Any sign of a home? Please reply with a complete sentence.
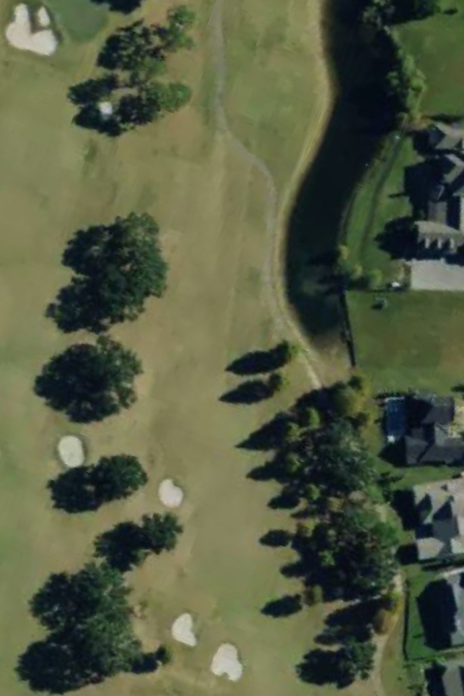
Yes, this view includes a home.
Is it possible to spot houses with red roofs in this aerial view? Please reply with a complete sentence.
No, this view has no house with a red roof in it.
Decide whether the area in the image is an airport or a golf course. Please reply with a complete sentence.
The picture captures a golf course.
